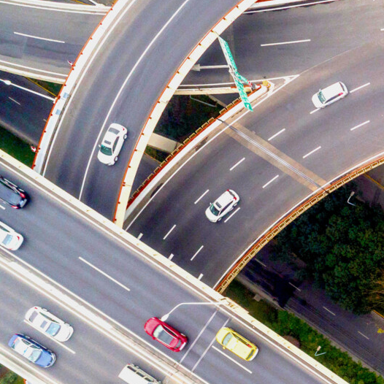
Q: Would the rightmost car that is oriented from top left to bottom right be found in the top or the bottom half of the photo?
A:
bottom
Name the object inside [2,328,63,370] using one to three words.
car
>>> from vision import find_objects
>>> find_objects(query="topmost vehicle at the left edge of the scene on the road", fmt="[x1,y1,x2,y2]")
[0,169,34,209]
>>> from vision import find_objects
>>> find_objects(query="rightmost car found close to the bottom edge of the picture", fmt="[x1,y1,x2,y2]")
[212,324,264,366]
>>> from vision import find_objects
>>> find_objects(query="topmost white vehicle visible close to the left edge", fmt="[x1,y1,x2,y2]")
[0,216,33,255]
